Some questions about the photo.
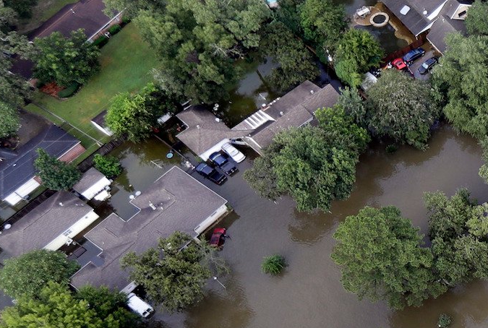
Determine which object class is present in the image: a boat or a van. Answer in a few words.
van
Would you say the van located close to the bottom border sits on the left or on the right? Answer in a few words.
left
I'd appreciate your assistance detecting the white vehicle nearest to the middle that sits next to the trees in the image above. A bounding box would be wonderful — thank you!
[220,143,247,165]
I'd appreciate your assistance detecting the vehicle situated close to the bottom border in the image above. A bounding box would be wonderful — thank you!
[124,286,157,322]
